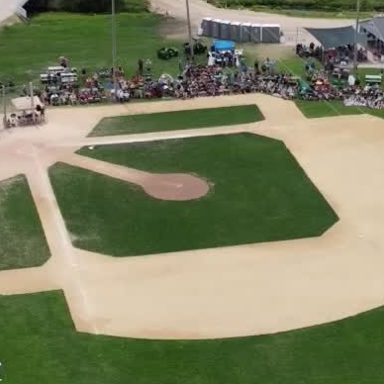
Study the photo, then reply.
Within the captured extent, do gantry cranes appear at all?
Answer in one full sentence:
No, I find no gantry crane anywhere in the image.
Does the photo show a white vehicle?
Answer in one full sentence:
No, no white vehicle is visible in the scene.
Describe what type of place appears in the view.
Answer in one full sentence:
It's a sports ground.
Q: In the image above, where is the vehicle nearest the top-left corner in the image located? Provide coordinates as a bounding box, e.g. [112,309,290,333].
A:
[157,41,179,59]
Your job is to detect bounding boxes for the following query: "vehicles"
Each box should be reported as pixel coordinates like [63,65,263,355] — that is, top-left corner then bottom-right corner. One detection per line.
[186,35,208,54]
[157,41,179,59]
[182,39,195,57]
